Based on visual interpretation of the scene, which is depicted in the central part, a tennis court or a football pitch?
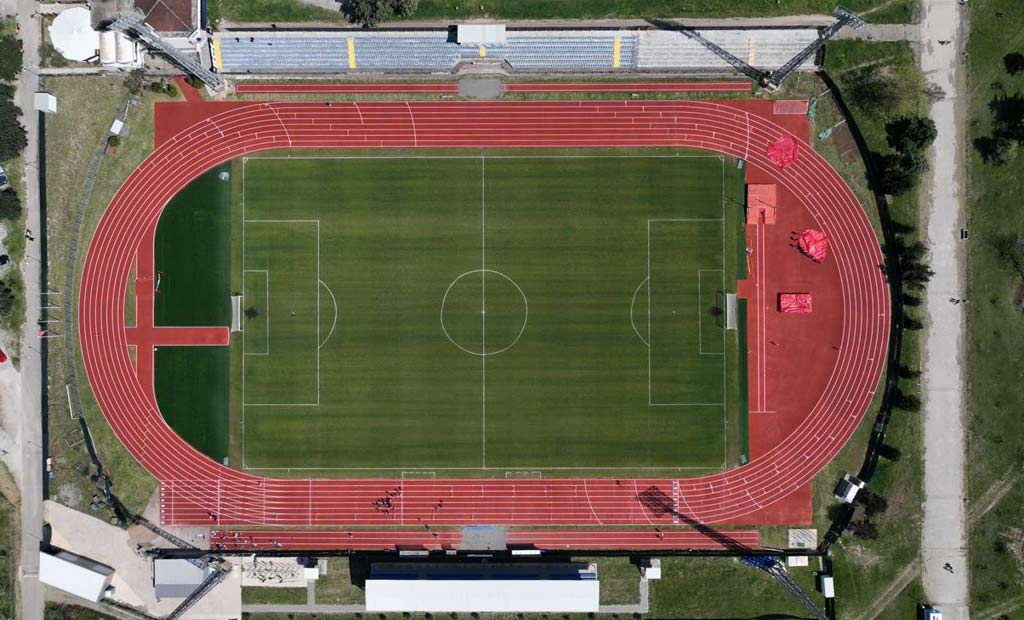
football pitch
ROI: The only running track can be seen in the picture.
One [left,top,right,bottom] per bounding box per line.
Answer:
[78,77,891,526]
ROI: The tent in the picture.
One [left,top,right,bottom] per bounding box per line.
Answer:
[51,9,104,65]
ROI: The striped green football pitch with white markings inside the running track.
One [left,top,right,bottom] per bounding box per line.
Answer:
[229,147,739,479]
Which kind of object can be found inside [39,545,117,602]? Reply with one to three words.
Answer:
building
